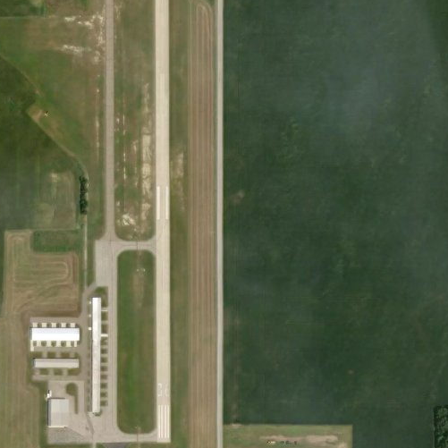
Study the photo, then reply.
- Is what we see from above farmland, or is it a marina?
farmland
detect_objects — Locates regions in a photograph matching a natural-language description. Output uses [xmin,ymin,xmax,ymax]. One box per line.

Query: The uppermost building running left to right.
[31,327,80,342]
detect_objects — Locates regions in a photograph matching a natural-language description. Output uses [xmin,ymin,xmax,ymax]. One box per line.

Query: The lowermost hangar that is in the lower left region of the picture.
[49,399,69,426]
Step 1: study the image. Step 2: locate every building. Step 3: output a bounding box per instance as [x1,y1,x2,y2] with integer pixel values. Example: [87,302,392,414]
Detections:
[92,298,101,412]
[49,399,69,426]
[31,327,80,342]
[35,359,79,369]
